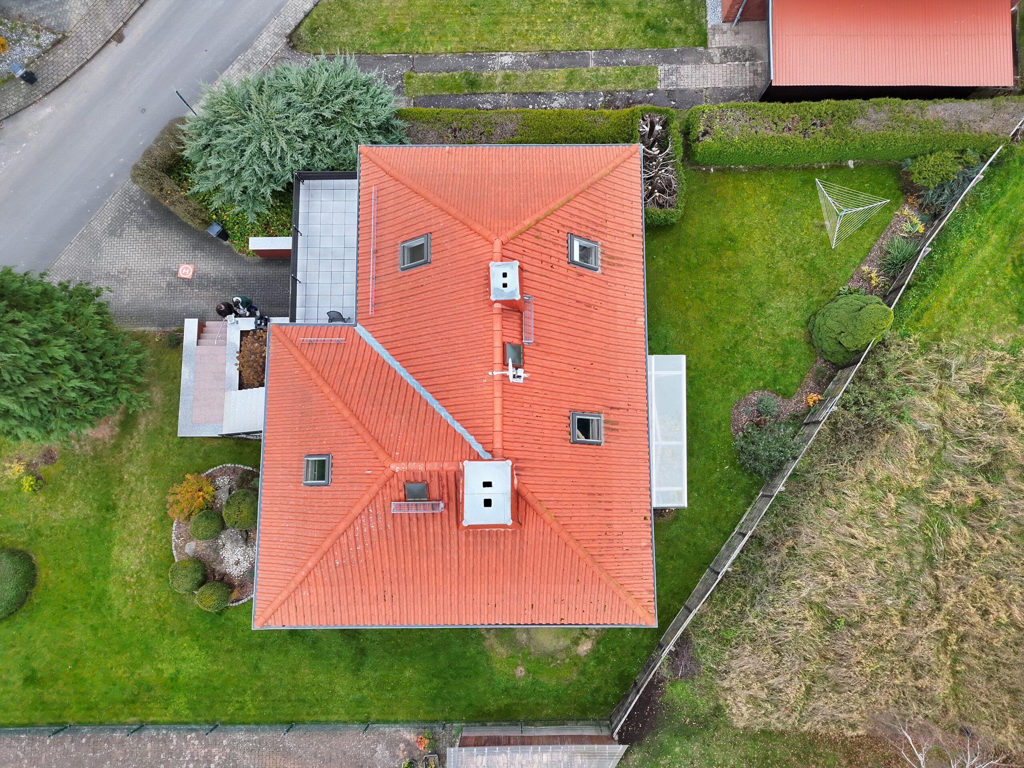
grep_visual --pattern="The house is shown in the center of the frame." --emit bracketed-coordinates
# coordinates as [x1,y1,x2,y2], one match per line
[250,142,658,630]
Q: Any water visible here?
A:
No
